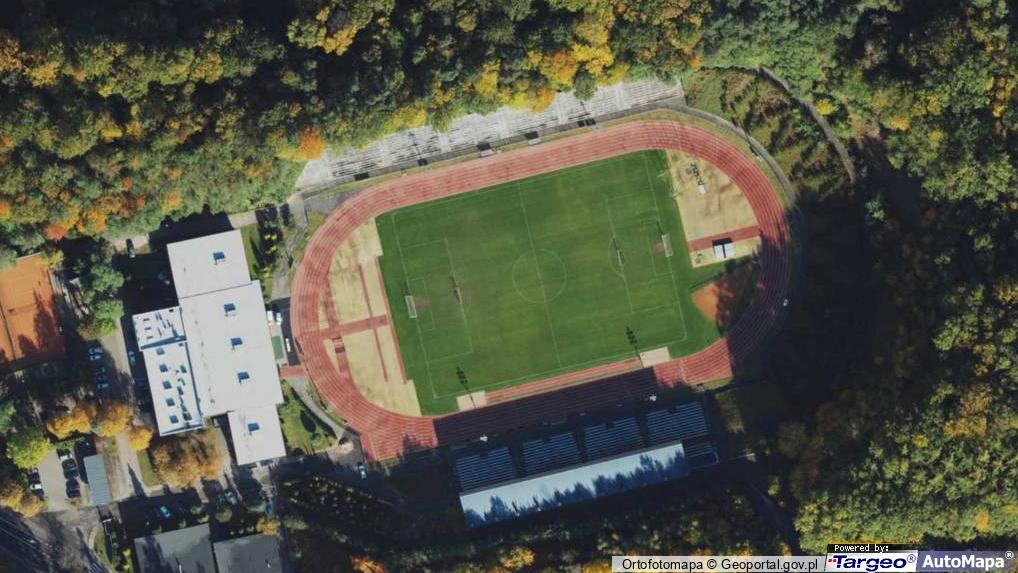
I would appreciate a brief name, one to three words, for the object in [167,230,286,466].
building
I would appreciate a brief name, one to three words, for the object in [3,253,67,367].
tennis court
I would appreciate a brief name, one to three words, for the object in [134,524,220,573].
building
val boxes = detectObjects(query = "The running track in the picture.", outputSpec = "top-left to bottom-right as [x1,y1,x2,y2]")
[279,121,792,461]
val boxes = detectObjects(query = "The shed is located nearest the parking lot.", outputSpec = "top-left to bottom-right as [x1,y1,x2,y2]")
[84,454,112,505]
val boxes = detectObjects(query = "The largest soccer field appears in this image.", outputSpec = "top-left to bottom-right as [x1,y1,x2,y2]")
[375,151,762,415]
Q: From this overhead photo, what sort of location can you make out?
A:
sports ground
